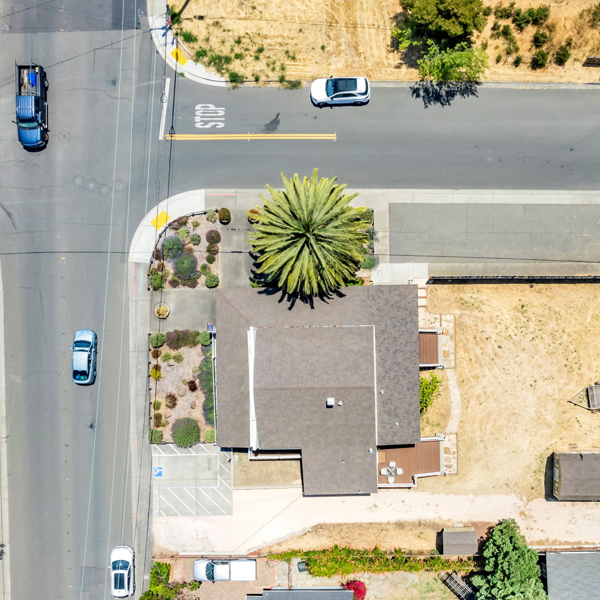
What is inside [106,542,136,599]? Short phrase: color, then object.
white car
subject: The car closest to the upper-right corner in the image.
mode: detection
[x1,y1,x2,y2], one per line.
[310,74,370,106]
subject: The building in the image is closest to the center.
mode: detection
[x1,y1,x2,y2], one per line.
[215,283,420,494]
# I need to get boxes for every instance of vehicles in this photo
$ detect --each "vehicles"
[106,542,136,599]
[195,558,257,586]
[69,329,99,385]
[310,74,370,106]
[16,62,50,147]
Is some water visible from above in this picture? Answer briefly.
No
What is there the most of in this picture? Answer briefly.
paved ground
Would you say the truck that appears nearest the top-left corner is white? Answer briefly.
No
